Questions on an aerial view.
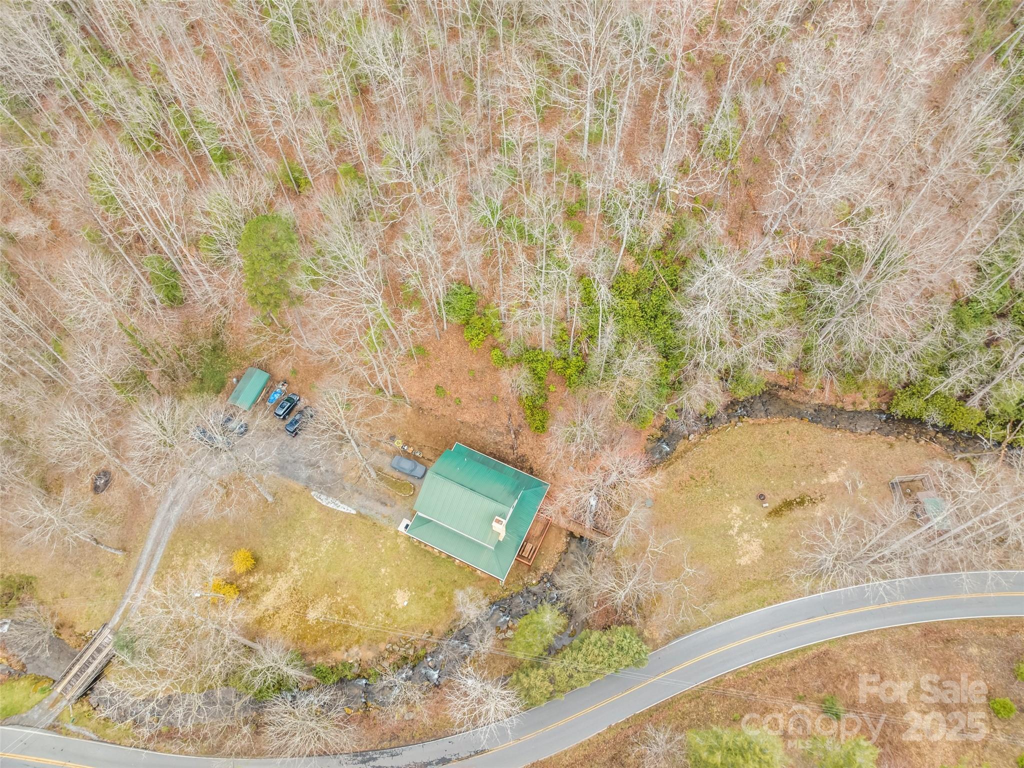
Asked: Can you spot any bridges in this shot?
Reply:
Yes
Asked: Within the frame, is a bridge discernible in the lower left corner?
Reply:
Yes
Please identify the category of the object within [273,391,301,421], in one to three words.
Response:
car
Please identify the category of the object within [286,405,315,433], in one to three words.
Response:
car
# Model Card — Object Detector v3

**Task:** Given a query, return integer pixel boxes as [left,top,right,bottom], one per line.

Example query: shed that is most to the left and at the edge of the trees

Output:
[226,368,274,417]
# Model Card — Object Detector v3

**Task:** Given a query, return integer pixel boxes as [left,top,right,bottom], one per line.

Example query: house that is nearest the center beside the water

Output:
[405,442,551,586]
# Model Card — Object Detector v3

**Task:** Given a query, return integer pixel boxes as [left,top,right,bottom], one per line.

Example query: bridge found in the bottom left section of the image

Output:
[47,621,126,706]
